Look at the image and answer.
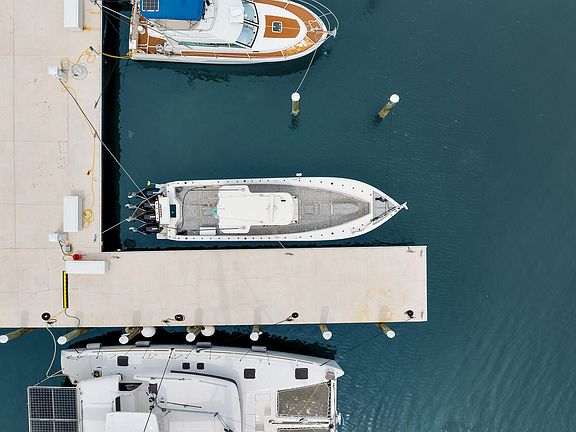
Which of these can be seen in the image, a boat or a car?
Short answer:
boat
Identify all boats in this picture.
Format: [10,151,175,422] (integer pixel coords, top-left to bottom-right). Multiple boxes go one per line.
[28,344,344,432]
[129,0,338,64]
[125,177,407,241]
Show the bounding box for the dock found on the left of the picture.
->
[0,0,427,327]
